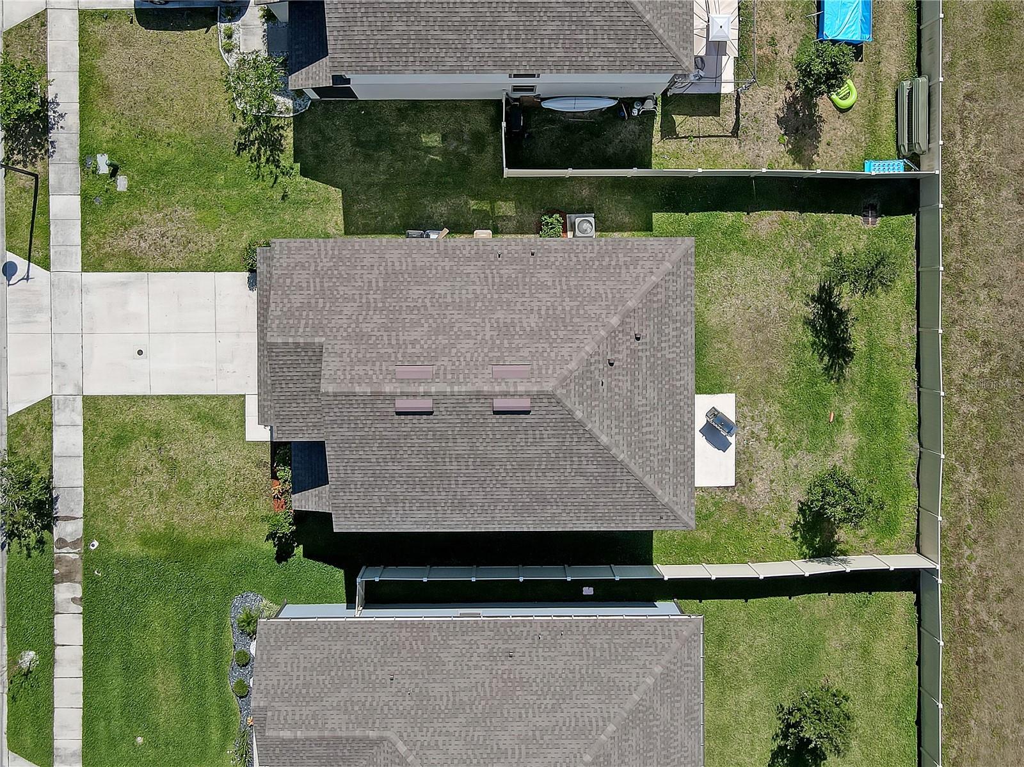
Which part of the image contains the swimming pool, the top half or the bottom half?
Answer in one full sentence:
It is in the top half that the swimming pool appears.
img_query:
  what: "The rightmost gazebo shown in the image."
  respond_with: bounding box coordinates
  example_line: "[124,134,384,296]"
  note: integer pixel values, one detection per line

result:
[664,0,756,97]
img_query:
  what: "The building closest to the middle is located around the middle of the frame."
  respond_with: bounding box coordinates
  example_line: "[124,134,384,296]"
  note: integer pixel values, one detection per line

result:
[257,235,697,533]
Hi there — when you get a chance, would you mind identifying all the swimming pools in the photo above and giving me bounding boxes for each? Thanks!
[803,0,872,51]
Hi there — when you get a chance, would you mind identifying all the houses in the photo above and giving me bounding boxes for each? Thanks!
[251,599,708,767]
[255,0,694,101]
[257,235,697,533]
